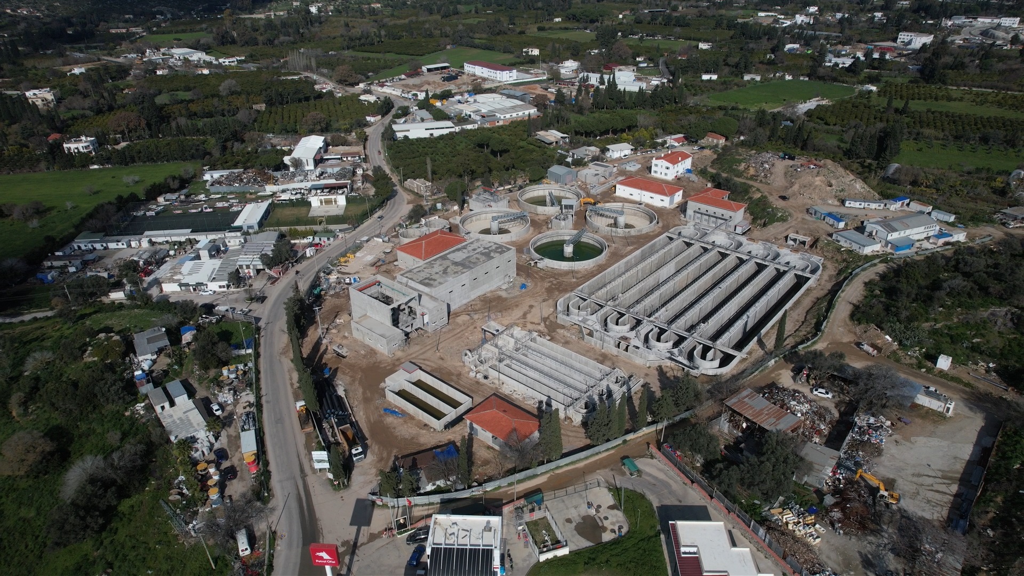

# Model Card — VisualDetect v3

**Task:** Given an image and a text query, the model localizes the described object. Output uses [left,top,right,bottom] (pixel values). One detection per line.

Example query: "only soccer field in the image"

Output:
[107,206,245,235]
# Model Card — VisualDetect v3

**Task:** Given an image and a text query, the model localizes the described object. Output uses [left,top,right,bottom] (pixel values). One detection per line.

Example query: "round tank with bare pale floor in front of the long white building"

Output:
[584,202,658,243]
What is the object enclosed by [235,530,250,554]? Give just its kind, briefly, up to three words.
vehicle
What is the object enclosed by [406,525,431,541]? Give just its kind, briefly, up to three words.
car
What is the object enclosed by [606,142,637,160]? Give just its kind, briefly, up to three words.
house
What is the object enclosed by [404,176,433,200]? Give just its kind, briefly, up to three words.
building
